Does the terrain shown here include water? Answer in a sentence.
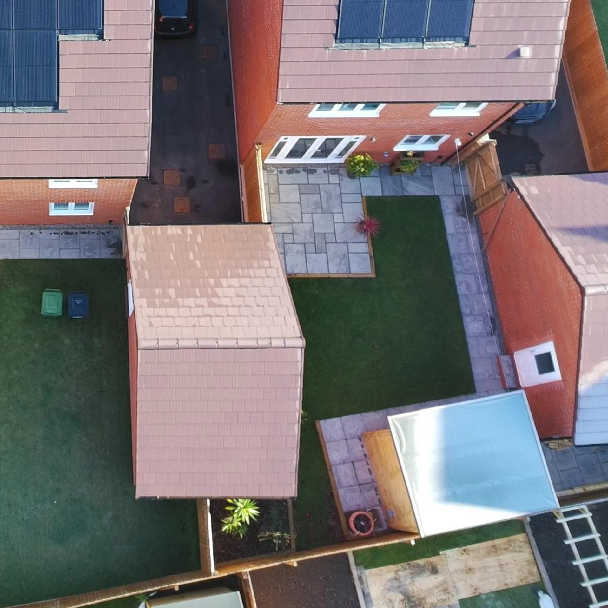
No, no water is visible.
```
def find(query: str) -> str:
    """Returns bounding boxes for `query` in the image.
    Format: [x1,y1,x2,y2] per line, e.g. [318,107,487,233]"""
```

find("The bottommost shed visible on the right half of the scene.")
[361,384,564,540]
